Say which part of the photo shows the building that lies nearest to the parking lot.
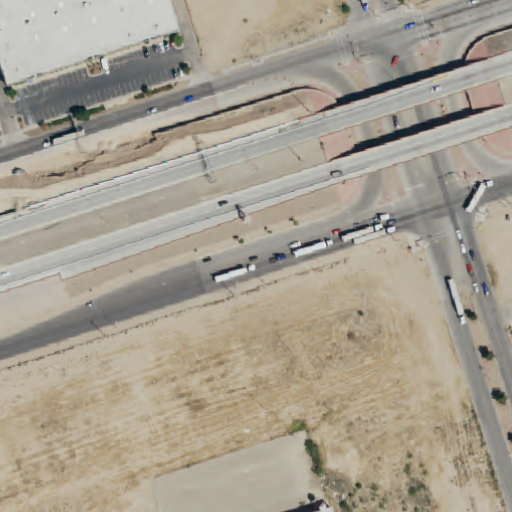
top left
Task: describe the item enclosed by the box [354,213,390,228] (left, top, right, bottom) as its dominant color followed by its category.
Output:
gray vehicle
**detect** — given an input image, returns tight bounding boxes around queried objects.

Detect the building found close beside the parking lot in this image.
[0,0,180,85]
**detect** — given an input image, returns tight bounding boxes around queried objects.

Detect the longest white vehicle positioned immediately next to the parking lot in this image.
[42,130,85,148]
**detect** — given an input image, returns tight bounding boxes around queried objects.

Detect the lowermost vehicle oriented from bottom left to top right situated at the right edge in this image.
[466,180,496,212]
